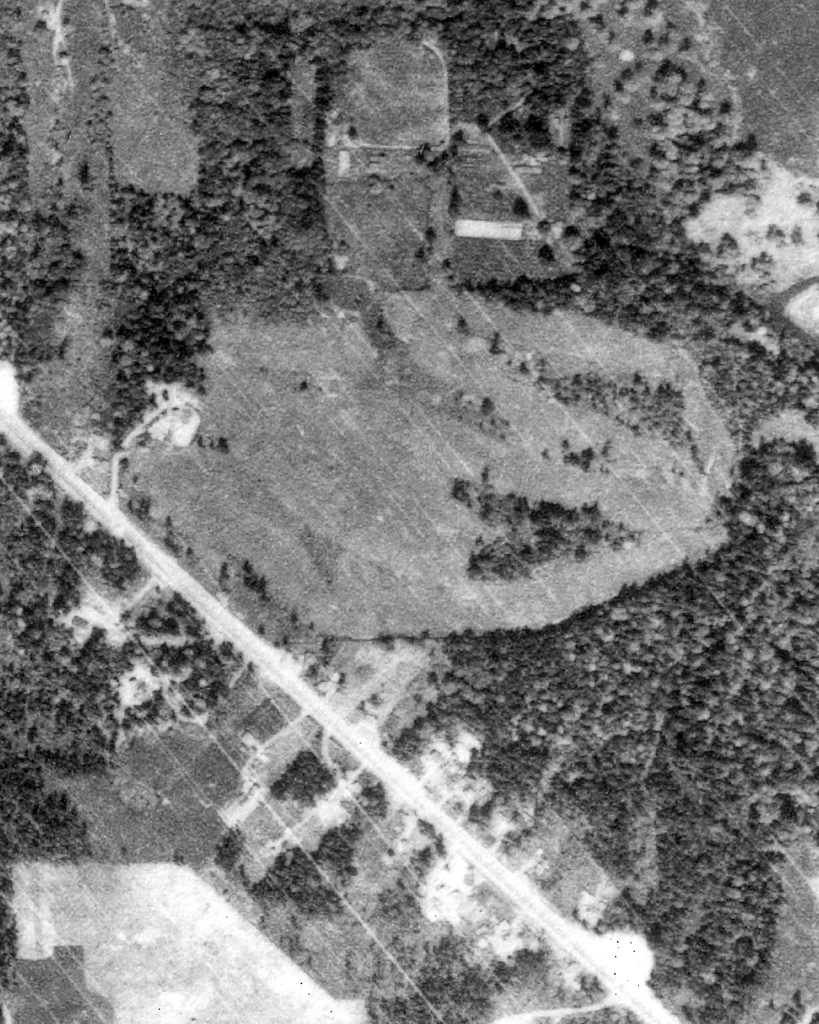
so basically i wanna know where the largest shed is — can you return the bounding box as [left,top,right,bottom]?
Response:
[456,219,522,240]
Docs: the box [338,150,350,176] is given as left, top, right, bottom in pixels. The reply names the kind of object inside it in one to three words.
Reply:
barn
